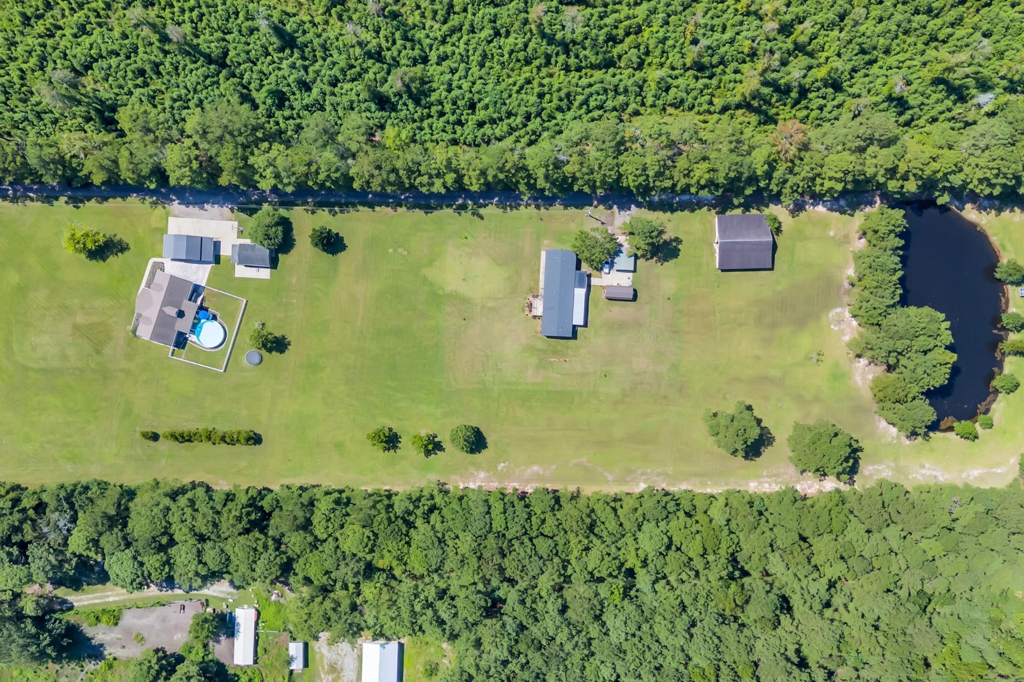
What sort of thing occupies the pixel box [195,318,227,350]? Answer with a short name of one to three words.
swimming pool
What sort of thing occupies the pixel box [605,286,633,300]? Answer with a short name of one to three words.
shed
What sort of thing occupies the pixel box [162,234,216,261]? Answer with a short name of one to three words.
building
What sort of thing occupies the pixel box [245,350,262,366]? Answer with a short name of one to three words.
trampoline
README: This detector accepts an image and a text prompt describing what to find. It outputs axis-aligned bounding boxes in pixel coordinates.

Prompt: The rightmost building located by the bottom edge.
[363,641,399,682]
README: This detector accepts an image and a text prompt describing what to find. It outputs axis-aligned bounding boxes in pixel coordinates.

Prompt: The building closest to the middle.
[532,250,587,337]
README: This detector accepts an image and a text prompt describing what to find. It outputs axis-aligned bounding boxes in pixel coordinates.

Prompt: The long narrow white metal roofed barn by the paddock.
[234,606,257,666]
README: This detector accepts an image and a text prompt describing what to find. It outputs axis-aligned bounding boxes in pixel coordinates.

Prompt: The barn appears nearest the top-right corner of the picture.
[713,214,772,269]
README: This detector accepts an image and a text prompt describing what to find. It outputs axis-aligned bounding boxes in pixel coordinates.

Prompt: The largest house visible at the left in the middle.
[136,271,202,346]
